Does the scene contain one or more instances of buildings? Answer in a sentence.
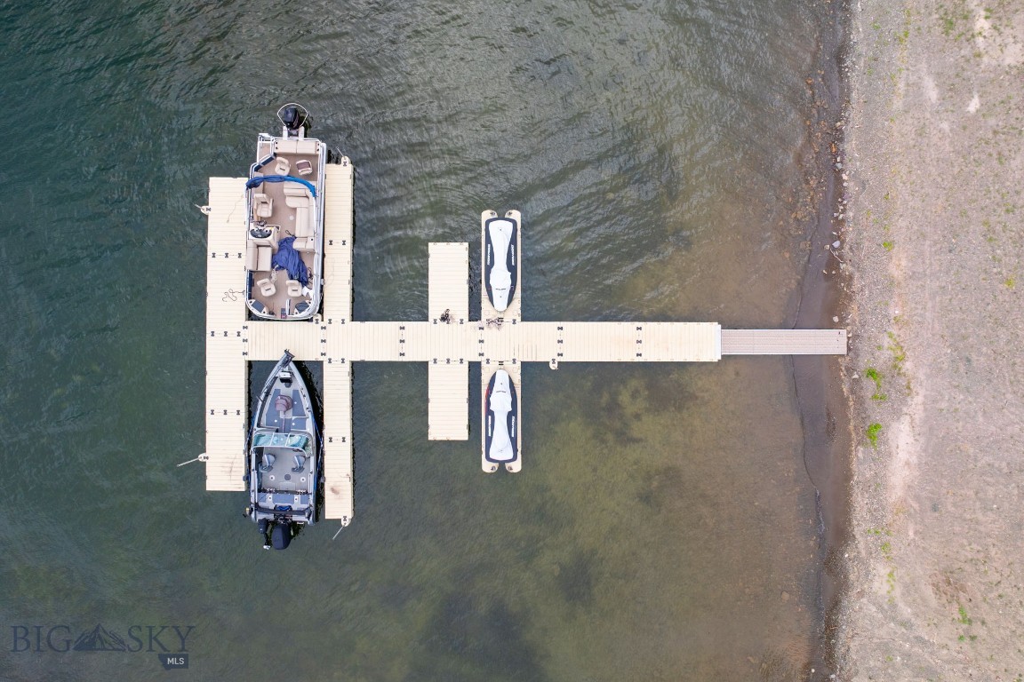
No, I find no building anywhere in the image.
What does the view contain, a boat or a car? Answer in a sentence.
It is a boat that can be seen here.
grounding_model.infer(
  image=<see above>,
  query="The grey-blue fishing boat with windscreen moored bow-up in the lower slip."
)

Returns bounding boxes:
[244,349,318,550]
